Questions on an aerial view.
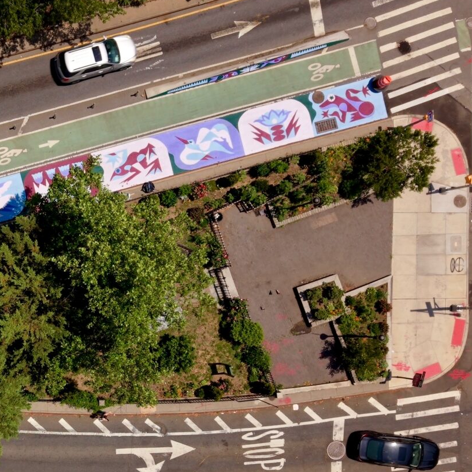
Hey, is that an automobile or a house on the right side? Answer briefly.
automobile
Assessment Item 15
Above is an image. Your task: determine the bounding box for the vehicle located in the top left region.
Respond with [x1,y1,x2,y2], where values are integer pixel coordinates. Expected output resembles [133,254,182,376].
[45,29,140,85]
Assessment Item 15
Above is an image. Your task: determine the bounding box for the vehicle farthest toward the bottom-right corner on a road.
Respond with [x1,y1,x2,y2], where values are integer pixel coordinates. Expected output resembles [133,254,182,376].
[346,425,439,471]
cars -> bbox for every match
[346,425,439,471]
[45,29,140,85]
